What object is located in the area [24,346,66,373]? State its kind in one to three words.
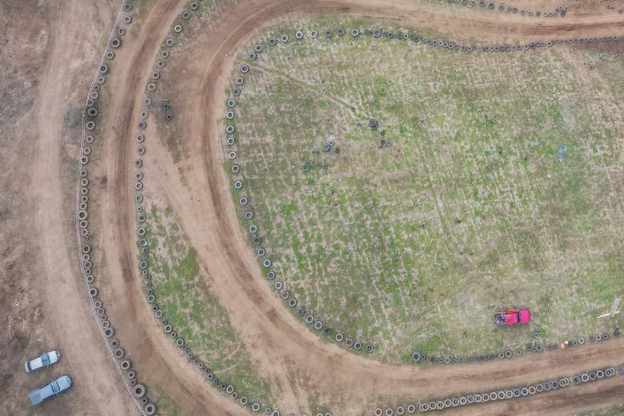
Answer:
car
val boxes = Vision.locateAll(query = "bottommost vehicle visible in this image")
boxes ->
[26,371,78,407]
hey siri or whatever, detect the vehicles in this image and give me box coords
[26,371,78,407]
[24,346,66,373]
[493,306,532,326]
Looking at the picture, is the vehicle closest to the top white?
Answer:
No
